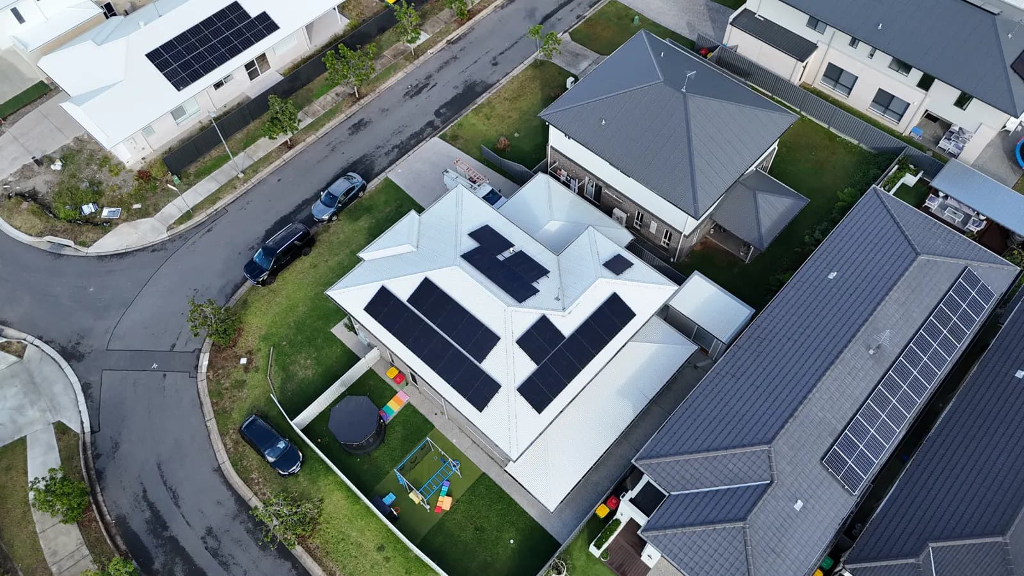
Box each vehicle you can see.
[310,171,371,223]
[245,219,318,285]
[232,408,304,477]
[441,156,506,209]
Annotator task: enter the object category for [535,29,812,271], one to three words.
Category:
house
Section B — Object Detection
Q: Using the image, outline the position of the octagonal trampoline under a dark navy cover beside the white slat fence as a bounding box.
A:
[334,397,389,457]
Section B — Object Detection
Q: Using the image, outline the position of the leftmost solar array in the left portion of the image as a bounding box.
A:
[144,2,278,91]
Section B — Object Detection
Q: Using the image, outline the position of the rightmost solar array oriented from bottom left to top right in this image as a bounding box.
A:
[824,267,995,497]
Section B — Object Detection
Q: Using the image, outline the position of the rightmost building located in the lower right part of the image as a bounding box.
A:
[838,291,1024,576]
